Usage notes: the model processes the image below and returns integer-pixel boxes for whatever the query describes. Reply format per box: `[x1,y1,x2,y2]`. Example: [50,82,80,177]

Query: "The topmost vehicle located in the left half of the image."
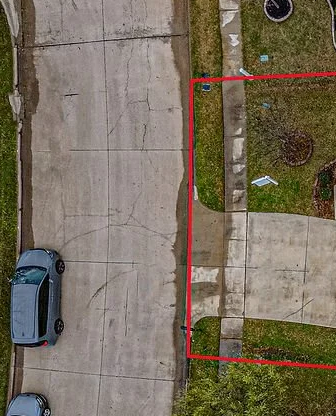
[12,247,67,346]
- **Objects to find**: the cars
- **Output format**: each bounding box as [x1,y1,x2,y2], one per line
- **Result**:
[12,247,67,346]
[6,389,53,416]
